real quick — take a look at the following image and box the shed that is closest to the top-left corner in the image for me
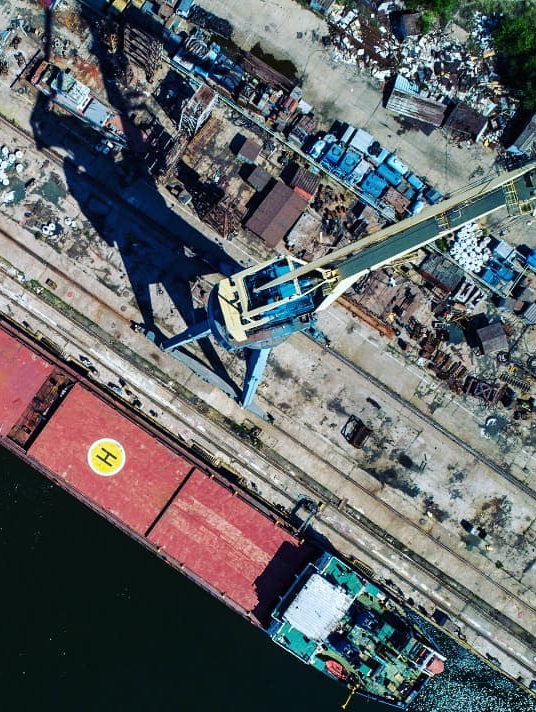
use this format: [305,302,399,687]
[235,137,263,168]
